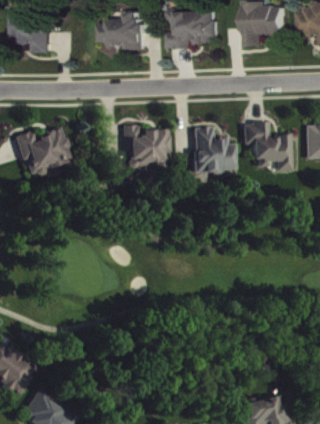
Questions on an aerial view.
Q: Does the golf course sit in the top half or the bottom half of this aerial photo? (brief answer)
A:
bottom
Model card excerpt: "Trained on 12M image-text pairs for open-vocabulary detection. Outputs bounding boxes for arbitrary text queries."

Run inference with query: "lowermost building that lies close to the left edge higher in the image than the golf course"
[12,124,76,175]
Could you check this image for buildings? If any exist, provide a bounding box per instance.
[162,2,216,50]
[12,124,76,175]
[191,124,240,182]
[26,386,78,424]
[245,392,295,424]
[0,344,32,394]
[124,124,178,170]
[290,0,320,54]
[306,126,320,158]
[236,0,281,48]
[244,120,298,176]
[6,15,48,52]
[96,8,142,50]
